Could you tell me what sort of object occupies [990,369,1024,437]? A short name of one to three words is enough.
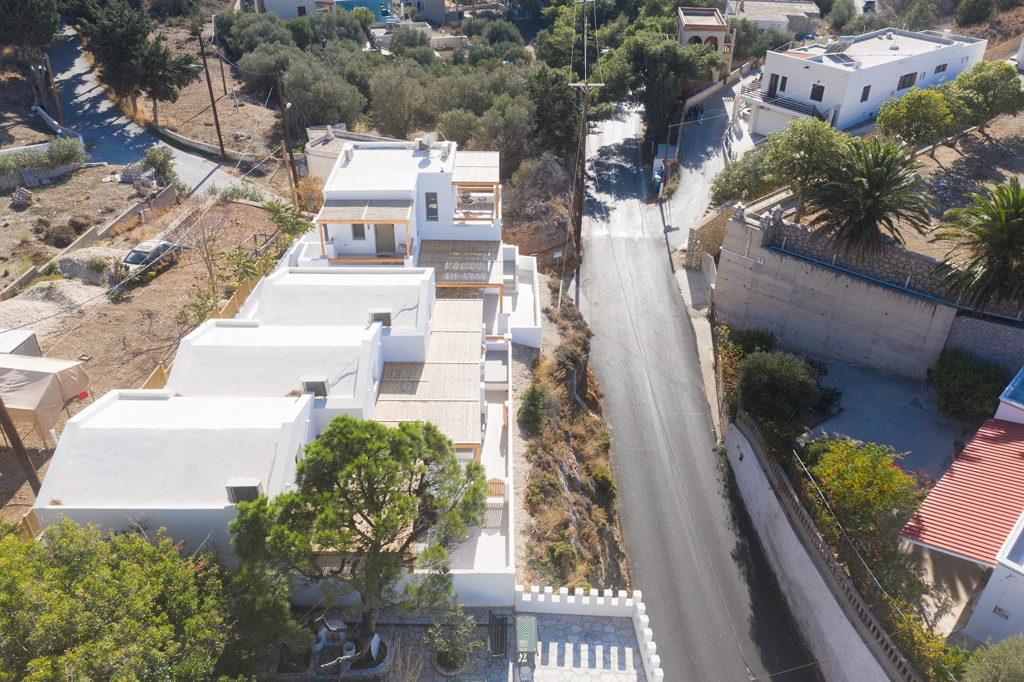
house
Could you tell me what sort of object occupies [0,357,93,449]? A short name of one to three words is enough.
tent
